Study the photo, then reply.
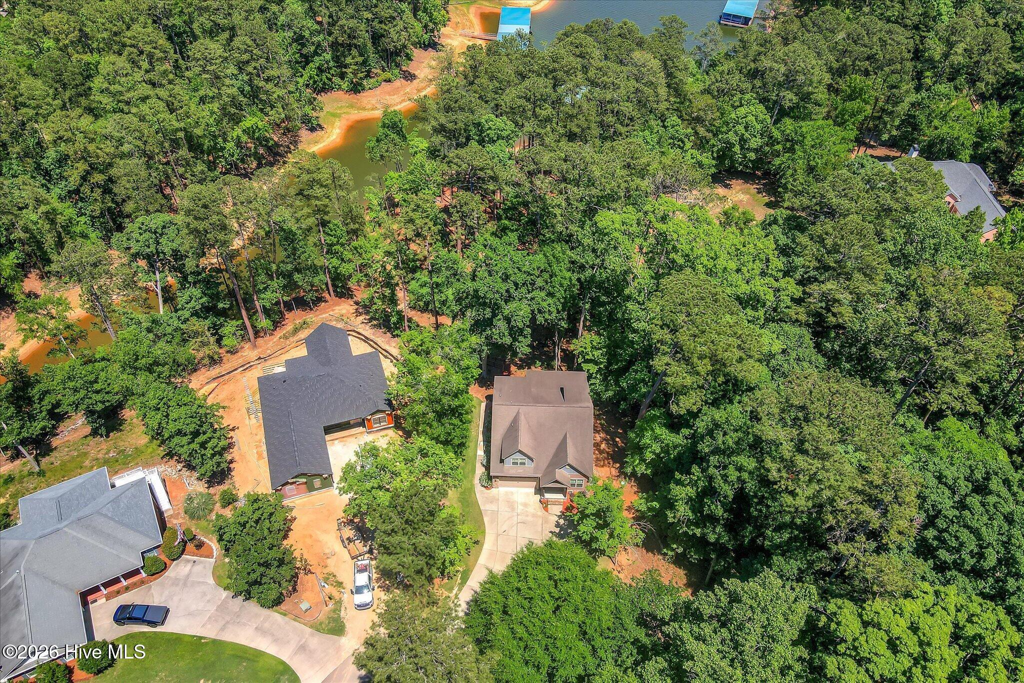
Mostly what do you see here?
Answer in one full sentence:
What you mostly see from above here is trees.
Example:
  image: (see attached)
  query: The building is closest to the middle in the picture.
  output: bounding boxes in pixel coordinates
[489,357,595,507]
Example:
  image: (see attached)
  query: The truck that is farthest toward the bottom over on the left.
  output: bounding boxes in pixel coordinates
[114,601,172,630]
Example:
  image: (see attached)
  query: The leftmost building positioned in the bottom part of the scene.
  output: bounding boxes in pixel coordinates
[0,457,177,683]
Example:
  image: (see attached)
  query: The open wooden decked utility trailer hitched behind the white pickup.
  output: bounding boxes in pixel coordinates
[336,516,368,560]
